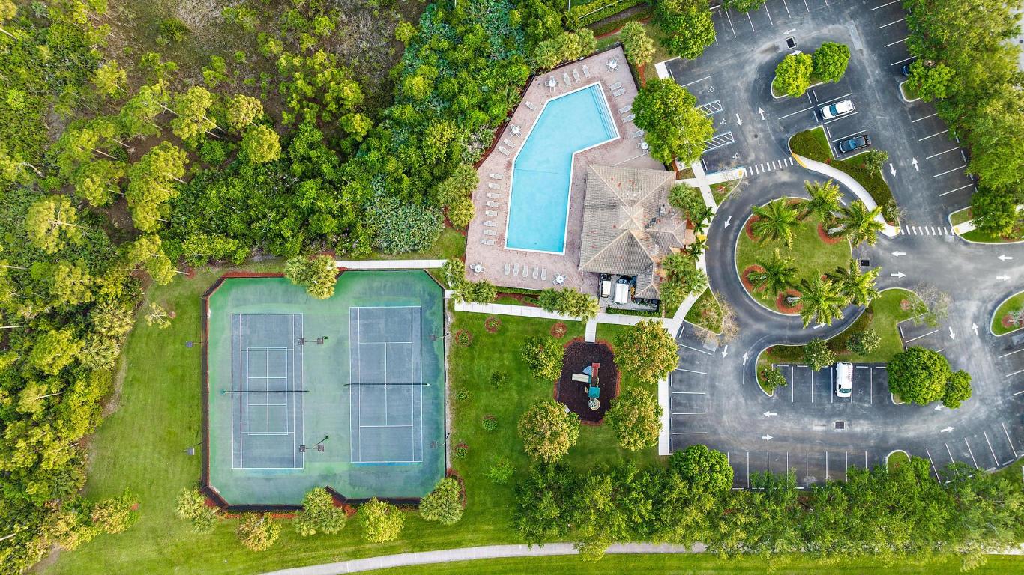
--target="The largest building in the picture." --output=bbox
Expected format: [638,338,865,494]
[580,164,689,299]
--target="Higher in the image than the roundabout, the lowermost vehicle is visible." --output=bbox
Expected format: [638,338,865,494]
[840,133,873,152]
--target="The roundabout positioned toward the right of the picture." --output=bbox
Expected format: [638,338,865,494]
[709,171,878,341]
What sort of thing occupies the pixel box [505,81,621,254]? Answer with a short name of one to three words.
swimming pool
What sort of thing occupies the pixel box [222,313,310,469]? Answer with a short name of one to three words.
tennis court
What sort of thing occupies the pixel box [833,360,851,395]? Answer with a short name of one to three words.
vehicle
